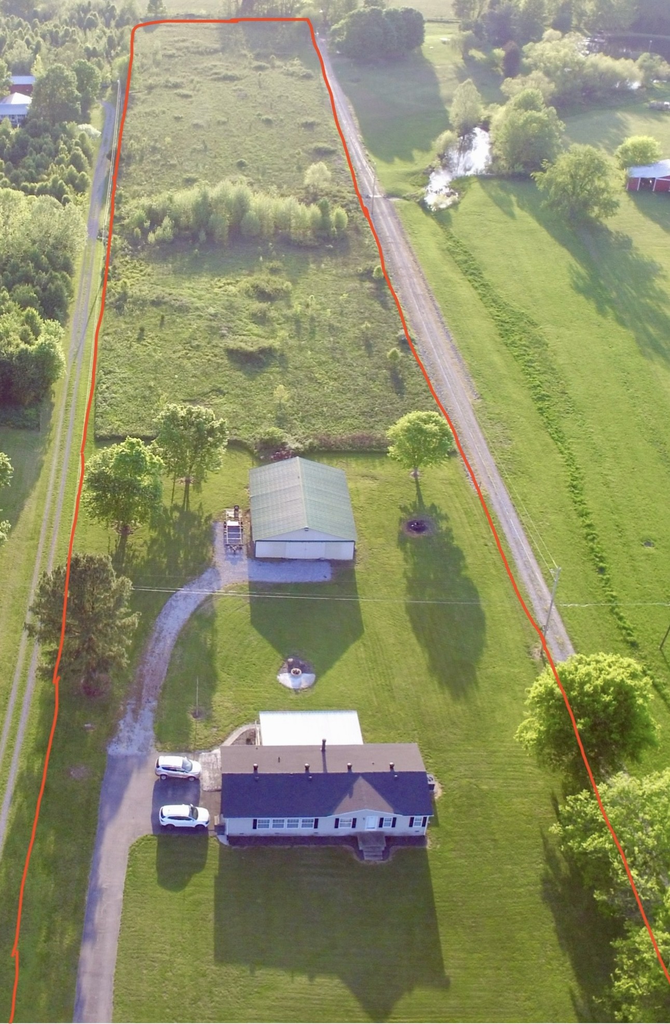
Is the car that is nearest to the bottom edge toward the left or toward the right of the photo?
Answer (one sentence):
The car that is nearest to the bottom edge appears in the left half of the scene.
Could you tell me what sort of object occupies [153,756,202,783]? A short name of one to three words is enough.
car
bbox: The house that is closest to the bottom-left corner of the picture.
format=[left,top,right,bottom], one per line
[222,743,433,835]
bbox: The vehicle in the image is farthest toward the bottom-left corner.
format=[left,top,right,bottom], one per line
[159,805,209,832]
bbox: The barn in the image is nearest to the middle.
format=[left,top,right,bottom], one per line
[253,457,361,559]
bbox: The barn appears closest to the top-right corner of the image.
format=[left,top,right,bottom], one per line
[619,159,670,190]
